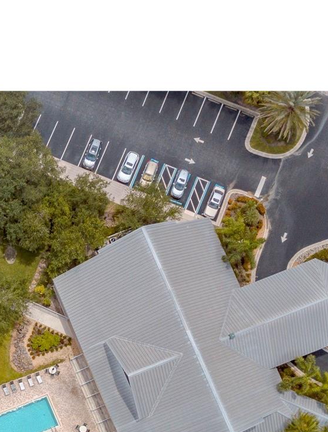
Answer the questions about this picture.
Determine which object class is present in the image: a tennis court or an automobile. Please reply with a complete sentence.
I can see an automobile in this picture.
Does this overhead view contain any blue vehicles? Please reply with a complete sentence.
No, I can see no blue vehicle in this picture.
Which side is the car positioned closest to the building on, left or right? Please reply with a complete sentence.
The car positioned closest to the building appears in the right half of the scene.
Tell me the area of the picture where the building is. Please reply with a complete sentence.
The building is in the bottom part of the image.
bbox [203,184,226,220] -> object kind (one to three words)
car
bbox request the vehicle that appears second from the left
[118,149,140,184]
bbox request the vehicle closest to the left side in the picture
[83,137,102,170]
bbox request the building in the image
[53,219,328,432]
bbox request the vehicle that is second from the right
[170,167,190,200]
